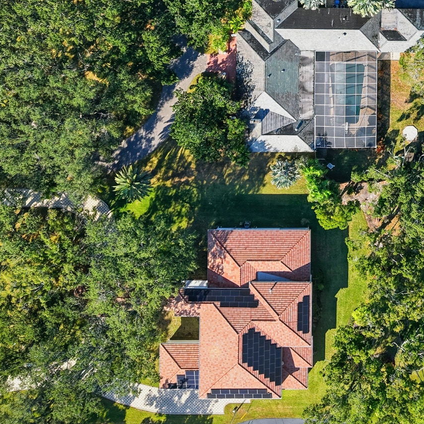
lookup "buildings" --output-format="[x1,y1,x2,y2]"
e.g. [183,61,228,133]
[236,0,424,152]
[159,226,314,399]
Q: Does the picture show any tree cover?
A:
Yes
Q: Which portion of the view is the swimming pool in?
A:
top right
